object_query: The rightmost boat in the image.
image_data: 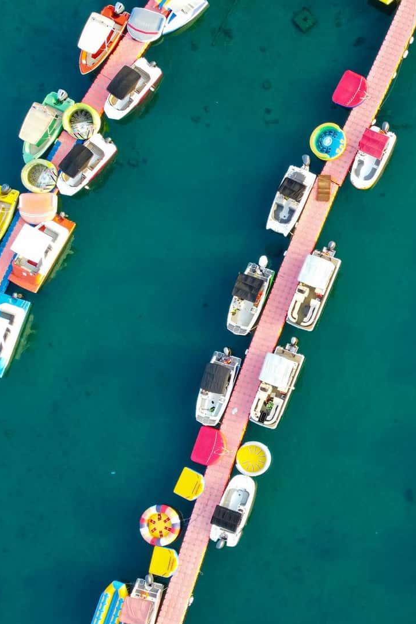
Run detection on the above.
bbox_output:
[354,124,395,191]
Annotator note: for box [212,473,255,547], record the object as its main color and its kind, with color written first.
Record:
white boat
